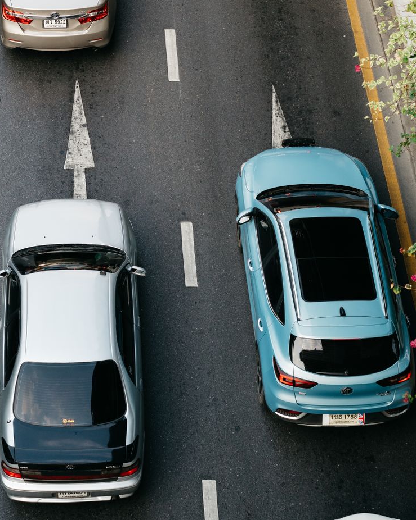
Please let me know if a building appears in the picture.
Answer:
No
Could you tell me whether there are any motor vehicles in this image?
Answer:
Yes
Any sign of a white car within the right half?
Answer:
No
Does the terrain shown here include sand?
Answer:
No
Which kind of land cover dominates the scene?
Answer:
paved ground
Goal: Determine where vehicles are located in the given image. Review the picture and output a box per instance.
[233,148,416,425]
[0,204,148,499]
[0,0,117,49]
